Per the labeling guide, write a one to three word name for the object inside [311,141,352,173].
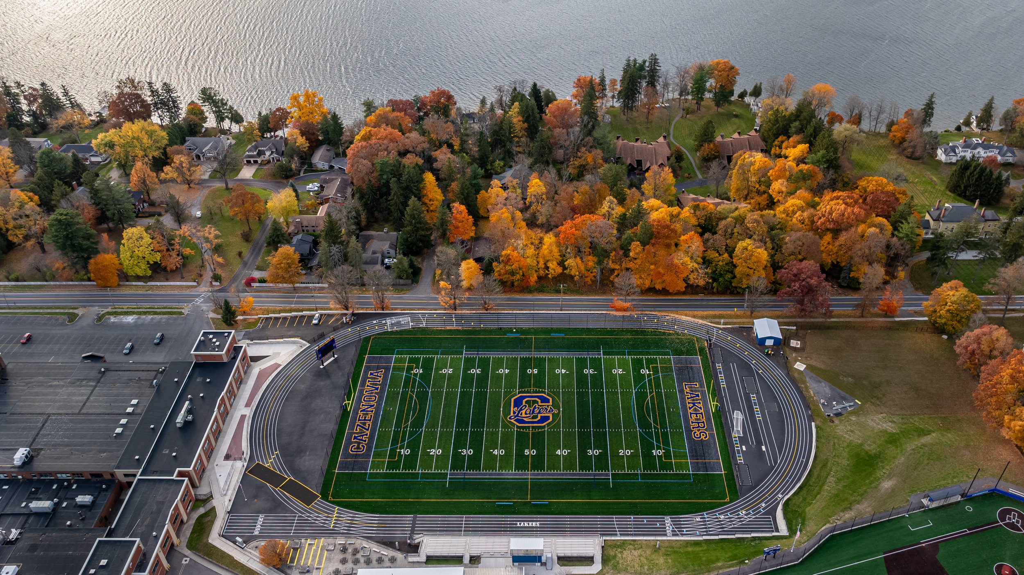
house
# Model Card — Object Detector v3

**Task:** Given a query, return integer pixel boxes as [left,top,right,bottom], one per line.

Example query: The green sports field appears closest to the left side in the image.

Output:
[320,327,741,516]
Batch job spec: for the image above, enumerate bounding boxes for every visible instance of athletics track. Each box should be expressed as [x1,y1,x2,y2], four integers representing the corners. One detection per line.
[219,313,814,540]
